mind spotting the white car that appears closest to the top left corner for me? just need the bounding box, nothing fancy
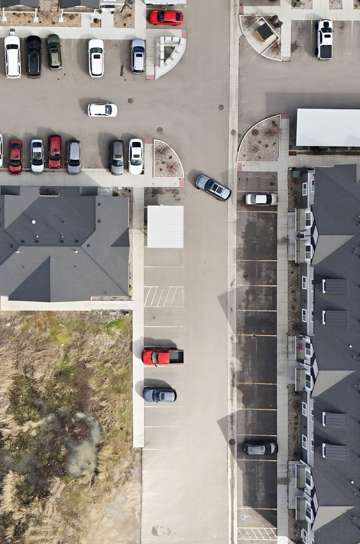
[4,36,22,79]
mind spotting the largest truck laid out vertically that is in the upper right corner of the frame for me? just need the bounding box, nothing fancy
[315,19,336,61]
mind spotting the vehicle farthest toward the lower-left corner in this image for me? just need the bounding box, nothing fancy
[143,386,177,404]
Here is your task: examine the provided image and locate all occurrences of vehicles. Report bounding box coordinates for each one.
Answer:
[128,138,145,176]
[243,190,278,207]
[242,439,278,458]
[24,35,43,78]
[147,8,184,27]
[28,138,45,174]
[45,34,63,70]
[109,139,126,175]
[46,135,63,170]
[4,36,22,79]
[141,348,185,367]
[65,139,82,175]
[87,39,106,78]
[315,19,336,61]
[142,0,178,6]
[86,102,118,118]
[194,173,232,203]
[7,139,23,175]
[130,38,147,74]
[143,386,177,404]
